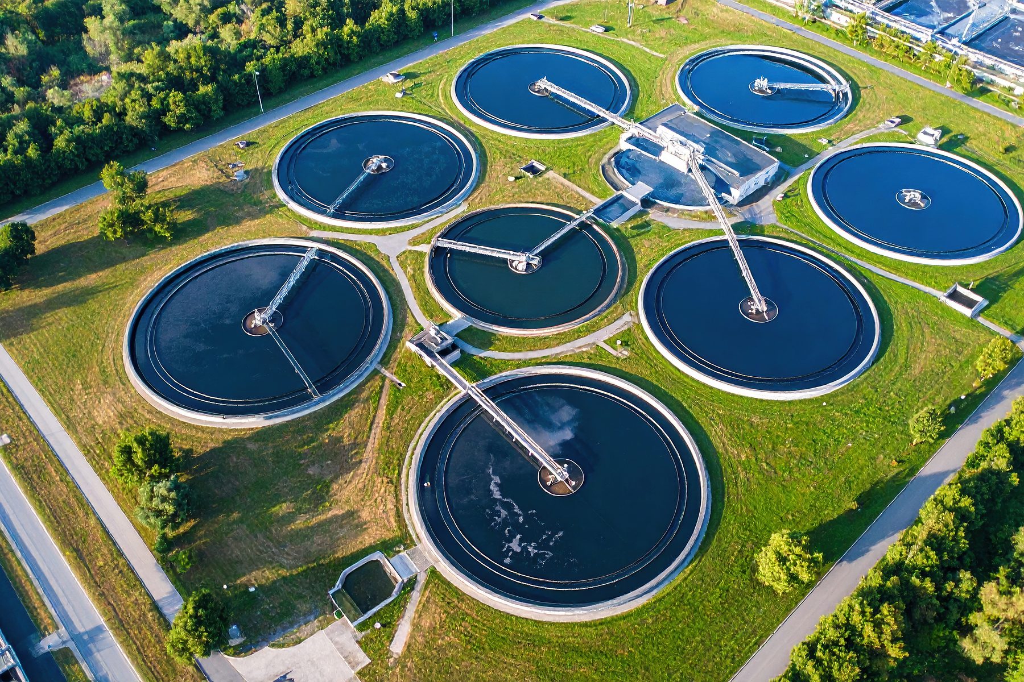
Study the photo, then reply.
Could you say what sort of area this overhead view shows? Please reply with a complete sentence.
The picture captures an industrial area.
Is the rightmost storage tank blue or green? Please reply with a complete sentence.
The color of the rightmost storage tank is blue.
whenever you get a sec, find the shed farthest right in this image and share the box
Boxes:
[917,119,945,146]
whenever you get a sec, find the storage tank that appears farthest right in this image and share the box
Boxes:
[807,144,1019,267]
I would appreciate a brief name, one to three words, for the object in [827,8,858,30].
shed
